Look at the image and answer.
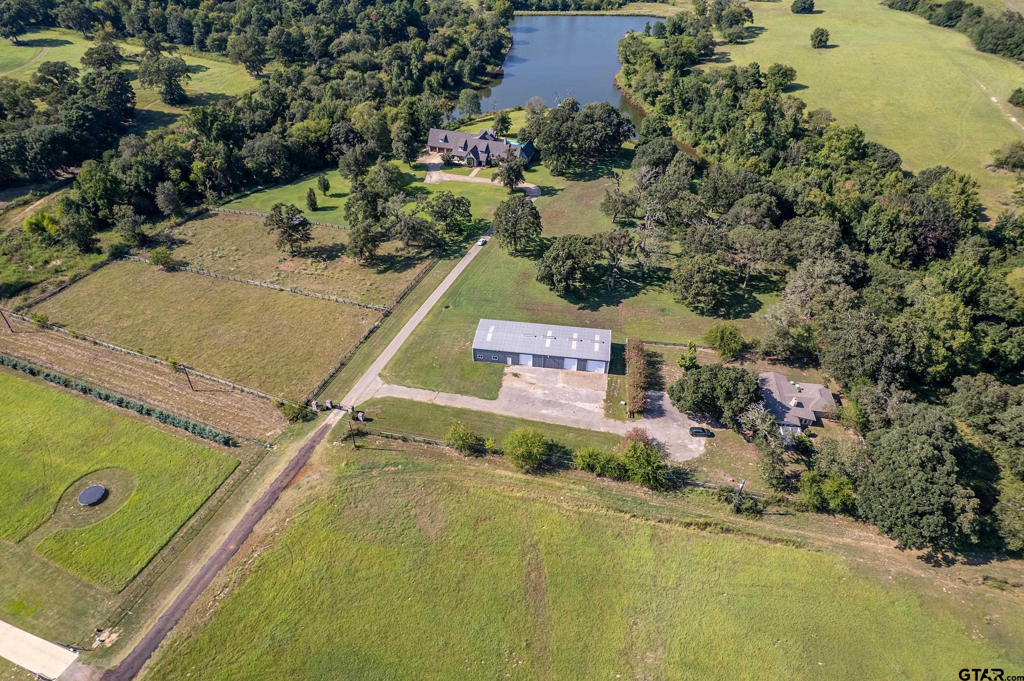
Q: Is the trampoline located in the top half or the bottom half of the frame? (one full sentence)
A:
The trampoline is in the bottom half of the image.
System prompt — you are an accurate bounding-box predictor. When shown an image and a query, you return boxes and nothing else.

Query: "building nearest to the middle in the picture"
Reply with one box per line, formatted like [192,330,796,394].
[472,318,612,374]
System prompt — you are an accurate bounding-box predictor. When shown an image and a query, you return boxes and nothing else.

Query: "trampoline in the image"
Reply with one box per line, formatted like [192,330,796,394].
[77,485,106,507]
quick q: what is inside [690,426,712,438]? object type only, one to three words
vehicle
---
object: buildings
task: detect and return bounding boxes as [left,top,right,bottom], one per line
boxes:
[758,375,837,432]
[428,124,538,168]
[472,318,612,374]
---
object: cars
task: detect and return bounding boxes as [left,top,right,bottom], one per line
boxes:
[475,236,485,245]
[690,426,712,438]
